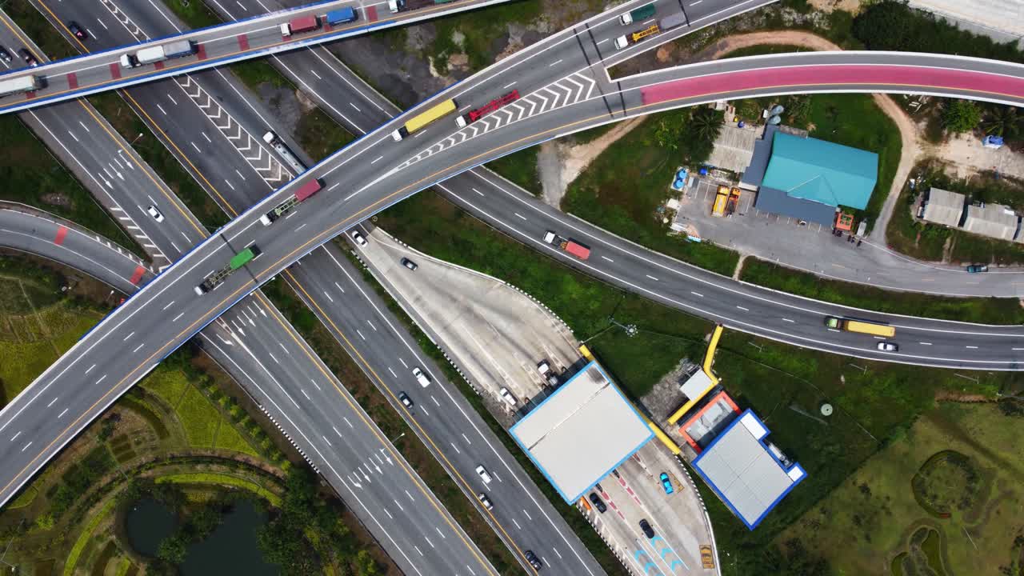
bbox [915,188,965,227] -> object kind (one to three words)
house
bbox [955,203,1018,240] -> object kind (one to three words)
house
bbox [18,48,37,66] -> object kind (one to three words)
car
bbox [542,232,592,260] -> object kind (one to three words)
truck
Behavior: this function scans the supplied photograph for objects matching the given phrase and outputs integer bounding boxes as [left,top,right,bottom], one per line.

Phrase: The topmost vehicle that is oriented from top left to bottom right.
[70,21,88,40]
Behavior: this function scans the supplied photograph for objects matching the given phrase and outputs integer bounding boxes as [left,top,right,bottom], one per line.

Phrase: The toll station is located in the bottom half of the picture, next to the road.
[510,361,655,504]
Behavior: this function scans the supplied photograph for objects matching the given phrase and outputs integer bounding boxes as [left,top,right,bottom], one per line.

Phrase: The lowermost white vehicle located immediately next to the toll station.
[499,387,518,408]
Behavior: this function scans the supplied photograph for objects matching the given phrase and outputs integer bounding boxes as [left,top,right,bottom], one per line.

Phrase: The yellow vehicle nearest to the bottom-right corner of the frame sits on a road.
[823,317,896,336]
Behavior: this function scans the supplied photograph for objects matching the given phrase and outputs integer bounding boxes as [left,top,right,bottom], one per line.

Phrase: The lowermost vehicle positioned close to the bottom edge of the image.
[524,550,542,570]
